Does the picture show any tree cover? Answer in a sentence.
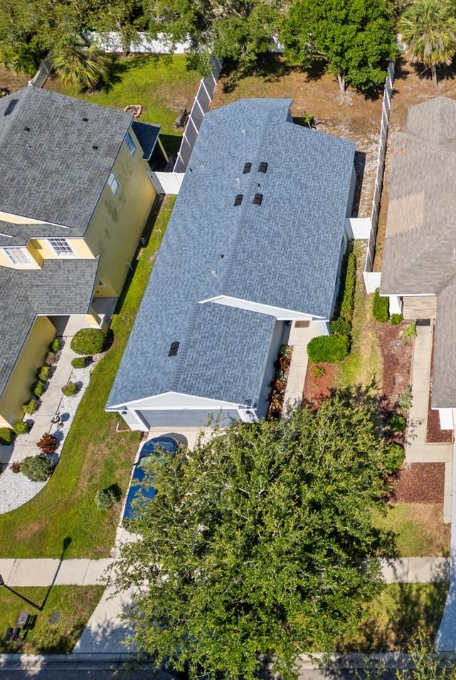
Yes, there's tree cover in this view.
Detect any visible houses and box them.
[0,89,175,429]
[376,97,456,427]
[106,97,357,427]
